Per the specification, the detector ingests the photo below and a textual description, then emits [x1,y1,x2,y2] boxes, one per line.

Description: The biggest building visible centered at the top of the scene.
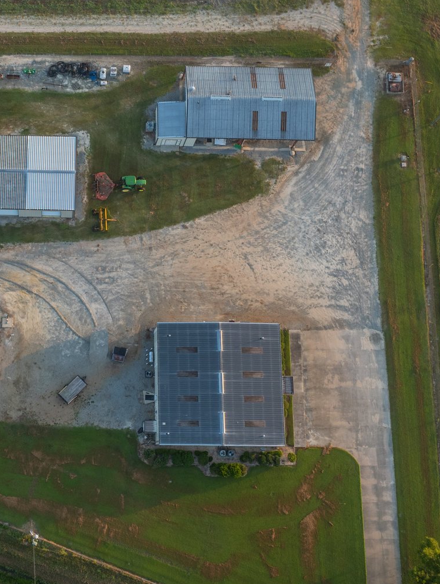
[160,65,317,152]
